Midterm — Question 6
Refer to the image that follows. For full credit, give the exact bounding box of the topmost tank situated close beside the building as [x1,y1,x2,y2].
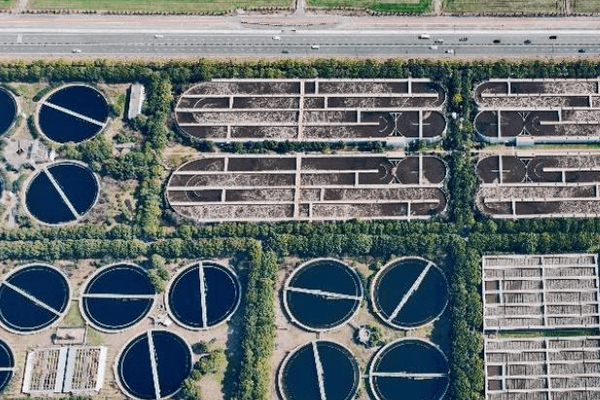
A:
[37,82,110,145]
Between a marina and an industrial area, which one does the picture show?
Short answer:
industrial area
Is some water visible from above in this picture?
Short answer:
Yes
